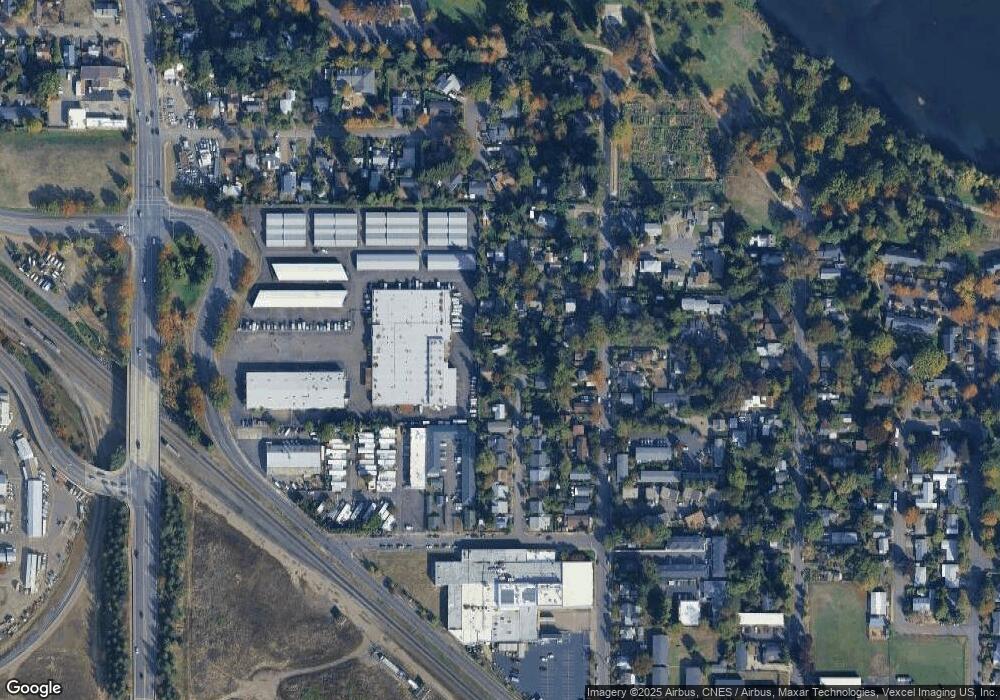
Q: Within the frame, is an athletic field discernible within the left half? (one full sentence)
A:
No, I see no athletic field within the left half.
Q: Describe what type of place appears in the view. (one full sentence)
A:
This image shows a residential area.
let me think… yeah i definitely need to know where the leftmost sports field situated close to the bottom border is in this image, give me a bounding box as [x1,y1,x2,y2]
[808,581,888,690]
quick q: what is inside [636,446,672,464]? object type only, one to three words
building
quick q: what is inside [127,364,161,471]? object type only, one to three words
overpass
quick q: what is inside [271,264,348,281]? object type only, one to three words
shed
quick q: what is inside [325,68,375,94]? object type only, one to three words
house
